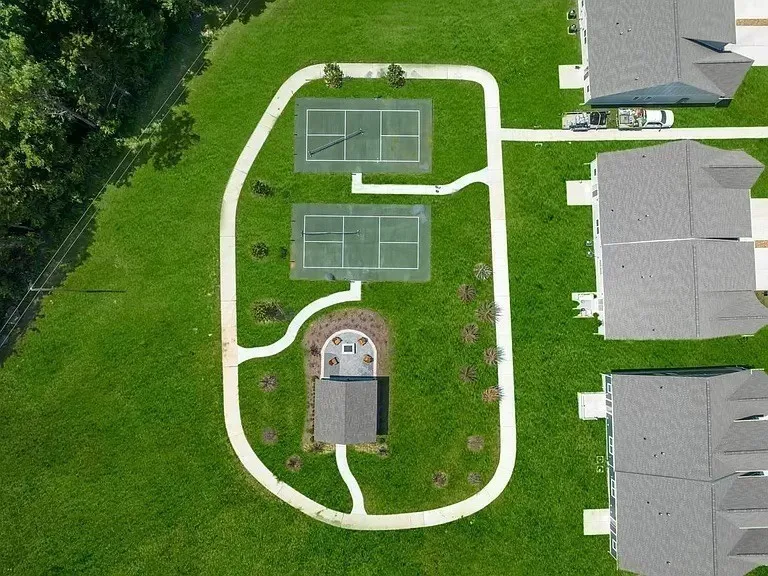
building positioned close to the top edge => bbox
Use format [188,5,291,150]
[580,0,752,105]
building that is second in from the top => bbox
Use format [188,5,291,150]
[586,140,768,340]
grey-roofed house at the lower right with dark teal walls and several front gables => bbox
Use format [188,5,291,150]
[599,370,768,576]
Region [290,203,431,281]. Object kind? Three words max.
sports court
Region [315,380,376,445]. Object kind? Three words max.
building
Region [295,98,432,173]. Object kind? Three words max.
sports court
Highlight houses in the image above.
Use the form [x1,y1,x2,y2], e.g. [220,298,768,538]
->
[586,140,768,340]
[580,0,752,105]
[599,370,768,576]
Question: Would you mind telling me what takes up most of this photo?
grass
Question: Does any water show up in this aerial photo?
No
